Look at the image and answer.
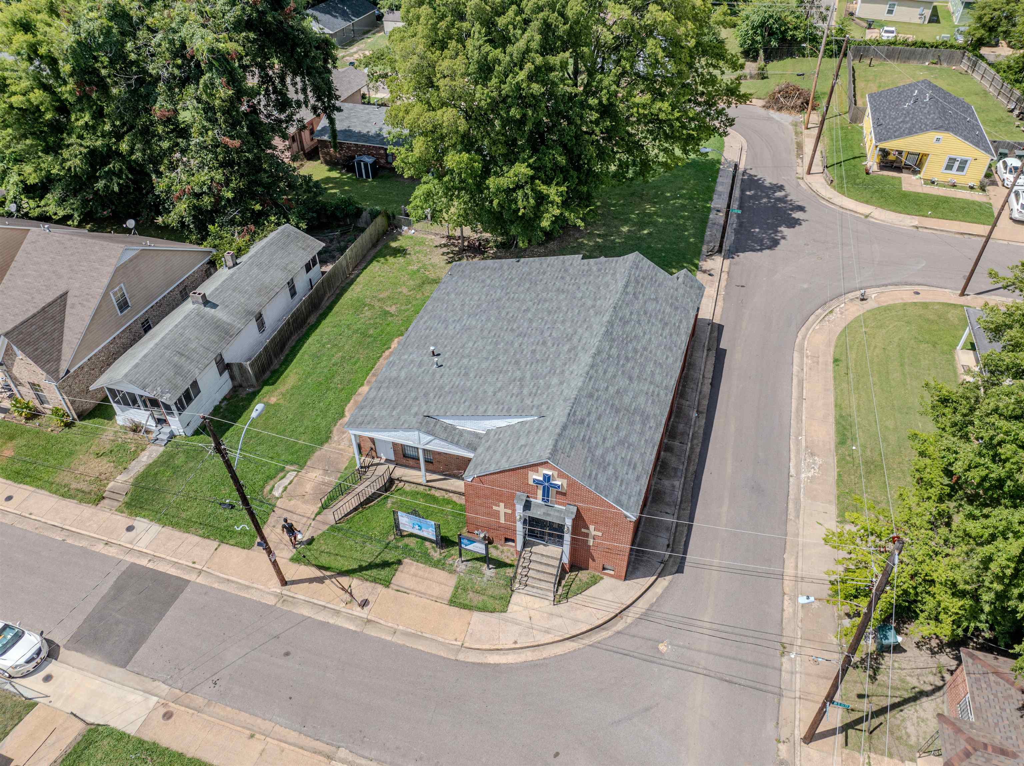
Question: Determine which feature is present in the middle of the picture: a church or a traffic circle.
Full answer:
You can see a church in the middle of the picture.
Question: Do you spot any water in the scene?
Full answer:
No, there is no water in the image.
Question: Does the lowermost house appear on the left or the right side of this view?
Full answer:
The lowermost house appears in the right half of the scene.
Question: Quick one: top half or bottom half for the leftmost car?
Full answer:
The leftmost car sits in the bottom half of the picture.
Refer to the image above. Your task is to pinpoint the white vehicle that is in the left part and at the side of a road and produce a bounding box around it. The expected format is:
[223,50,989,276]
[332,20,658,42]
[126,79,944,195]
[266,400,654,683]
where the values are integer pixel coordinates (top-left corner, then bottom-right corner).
[0,622,48,686]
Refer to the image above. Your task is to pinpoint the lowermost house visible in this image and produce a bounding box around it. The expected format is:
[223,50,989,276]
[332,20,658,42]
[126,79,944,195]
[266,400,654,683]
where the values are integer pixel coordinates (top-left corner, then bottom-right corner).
[918,645,1024,766]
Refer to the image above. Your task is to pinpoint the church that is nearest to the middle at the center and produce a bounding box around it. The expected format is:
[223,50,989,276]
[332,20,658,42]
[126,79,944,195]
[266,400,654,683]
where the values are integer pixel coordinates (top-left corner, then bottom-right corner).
[321,251,705,604]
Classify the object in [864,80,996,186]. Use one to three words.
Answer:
house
